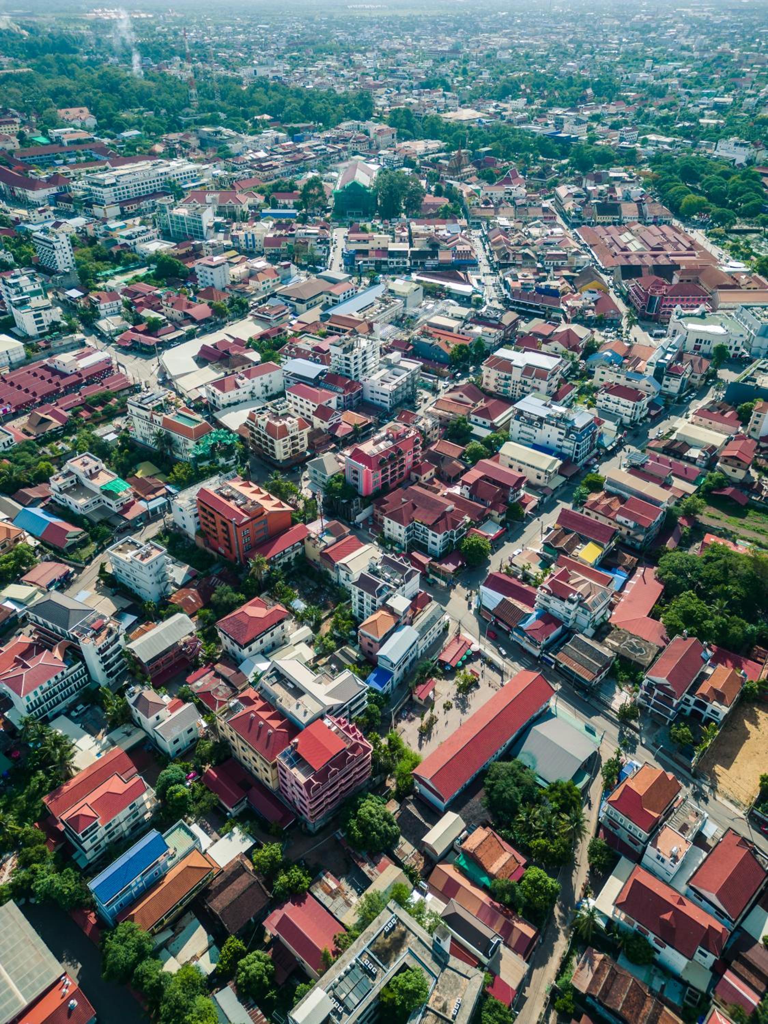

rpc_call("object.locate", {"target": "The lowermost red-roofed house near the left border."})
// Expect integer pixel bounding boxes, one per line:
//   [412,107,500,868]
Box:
[19,976,100,1024]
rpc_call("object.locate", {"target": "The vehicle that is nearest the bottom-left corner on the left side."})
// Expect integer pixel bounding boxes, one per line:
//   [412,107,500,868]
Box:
[67,701,90,717]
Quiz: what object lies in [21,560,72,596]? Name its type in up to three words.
shed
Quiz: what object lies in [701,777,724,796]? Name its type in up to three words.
car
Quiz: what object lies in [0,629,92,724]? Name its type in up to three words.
building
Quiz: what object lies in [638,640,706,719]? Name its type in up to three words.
house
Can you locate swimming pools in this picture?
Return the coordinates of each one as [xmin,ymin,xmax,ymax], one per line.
[174,411,200,424]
